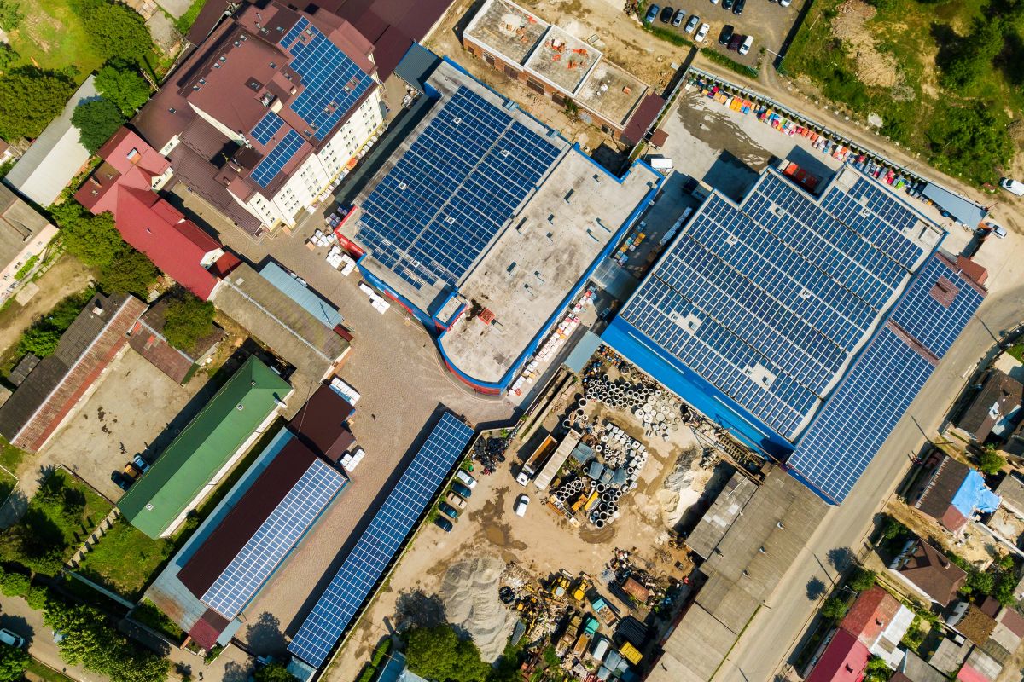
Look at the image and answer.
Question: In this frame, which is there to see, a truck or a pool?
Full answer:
The image shows a truck.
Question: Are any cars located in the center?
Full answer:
Yes, looking in the center, one can make out a car.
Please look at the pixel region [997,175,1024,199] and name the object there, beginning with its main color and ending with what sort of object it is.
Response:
white vehicle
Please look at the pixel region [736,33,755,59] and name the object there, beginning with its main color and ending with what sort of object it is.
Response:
white car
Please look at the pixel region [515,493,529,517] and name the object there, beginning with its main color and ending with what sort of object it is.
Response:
white car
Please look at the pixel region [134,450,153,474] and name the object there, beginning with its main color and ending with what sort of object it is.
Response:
blue car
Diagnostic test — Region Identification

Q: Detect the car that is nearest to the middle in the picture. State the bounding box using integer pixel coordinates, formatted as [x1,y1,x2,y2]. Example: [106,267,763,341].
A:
[593,305,615,328]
